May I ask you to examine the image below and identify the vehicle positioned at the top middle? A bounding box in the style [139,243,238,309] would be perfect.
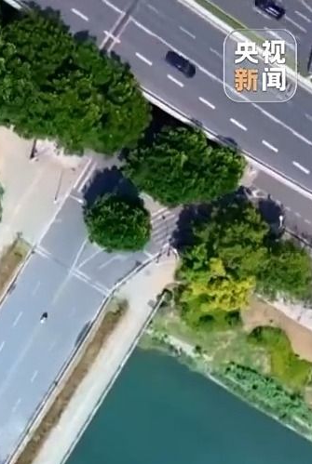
[162,50,197,79]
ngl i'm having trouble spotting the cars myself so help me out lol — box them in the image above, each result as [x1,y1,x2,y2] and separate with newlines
[162,50,197,79]
[250,0,286,23]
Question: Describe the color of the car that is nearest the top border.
black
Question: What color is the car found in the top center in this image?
black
